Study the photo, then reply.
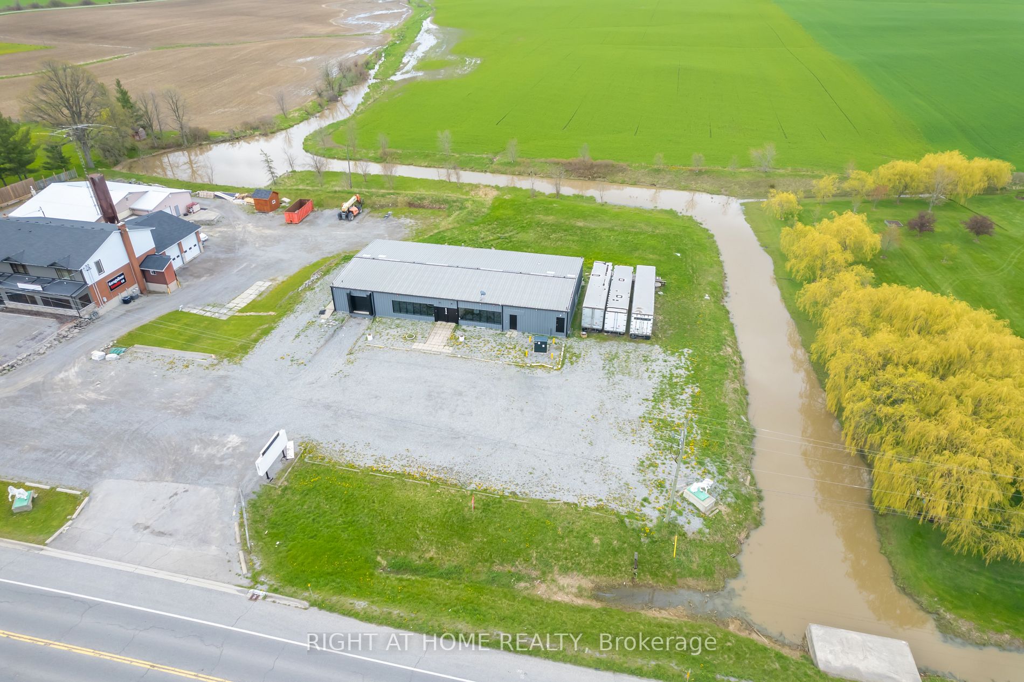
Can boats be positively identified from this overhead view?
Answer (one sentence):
No, there isn't any boat down there.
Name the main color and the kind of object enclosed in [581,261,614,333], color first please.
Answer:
white trailer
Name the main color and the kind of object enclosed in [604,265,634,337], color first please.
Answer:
white trailer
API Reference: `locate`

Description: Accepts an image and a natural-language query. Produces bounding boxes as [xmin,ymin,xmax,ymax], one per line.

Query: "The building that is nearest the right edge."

[328,239,585,338]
